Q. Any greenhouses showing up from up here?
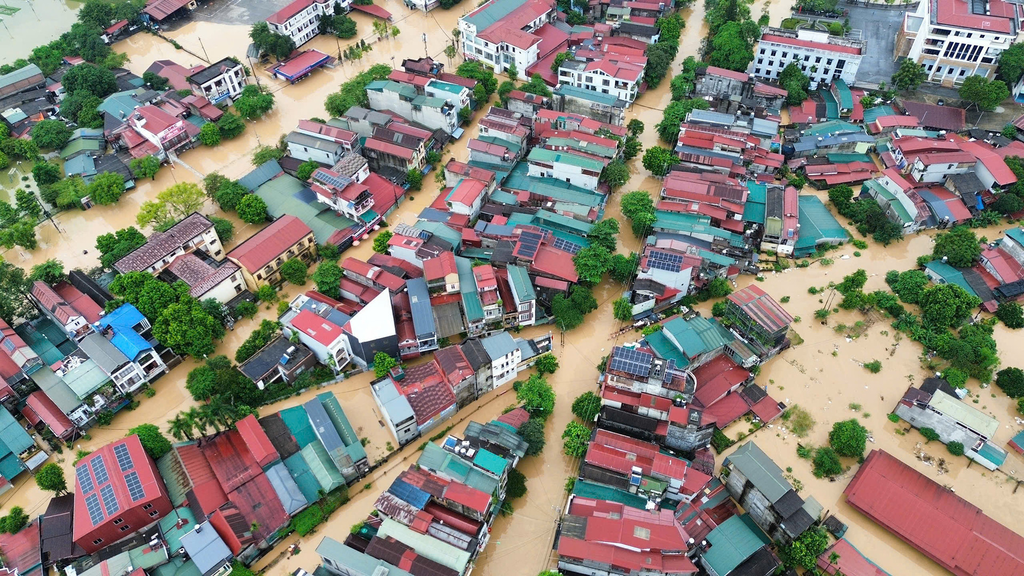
Yes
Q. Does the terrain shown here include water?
Yes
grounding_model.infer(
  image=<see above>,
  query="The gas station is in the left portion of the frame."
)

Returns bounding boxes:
[266,48,338,92]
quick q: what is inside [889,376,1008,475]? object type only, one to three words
house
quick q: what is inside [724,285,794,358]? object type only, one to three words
greenhouse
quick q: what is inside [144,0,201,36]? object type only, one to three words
shed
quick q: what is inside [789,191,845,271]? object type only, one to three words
building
